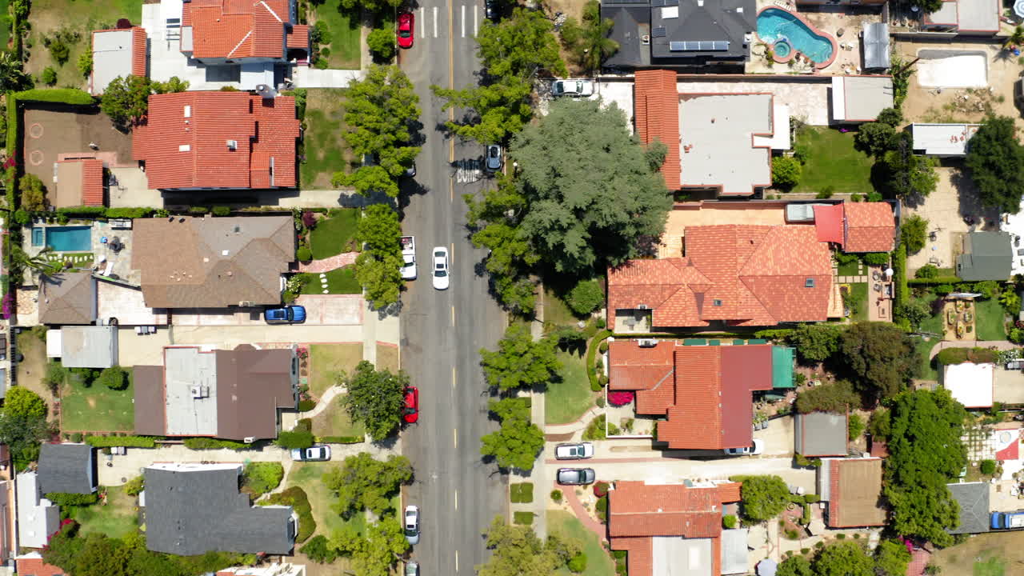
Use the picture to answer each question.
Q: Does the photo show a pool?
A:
Yes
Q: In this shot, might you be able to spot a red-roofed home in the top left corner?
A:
Yes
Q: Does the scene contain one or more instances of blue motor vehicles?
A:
Yes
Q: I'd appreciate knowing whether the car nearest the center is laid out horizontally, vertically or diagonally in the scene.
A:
vertically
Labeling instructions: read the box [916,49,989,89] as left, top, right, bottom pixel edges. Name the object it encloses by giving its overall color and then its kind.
white swimming pool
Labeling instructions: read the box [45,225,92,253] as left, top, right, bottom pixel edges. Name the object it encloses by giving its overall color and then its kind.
blue swimming pool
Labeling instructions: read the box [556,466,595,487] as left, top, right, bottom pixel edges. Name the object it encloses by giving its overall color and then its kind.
gray car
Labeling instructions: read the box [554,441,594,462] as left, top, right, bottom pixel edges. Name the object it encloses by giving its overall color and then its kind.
white car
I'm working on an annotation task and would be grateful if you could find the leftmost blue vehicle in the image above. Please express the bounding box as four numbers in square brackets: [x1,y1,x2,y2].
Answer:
[264,305,307,325]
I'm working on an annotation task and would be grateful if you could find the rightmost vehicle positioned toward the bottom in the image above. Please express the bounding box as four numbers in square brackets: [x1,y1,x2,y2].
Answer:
[990,510,1024,531]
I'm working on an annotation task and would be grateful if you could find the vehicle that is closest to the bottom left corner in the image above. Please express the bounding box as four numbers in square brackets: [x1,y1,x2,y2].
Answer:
[291,444,332,463]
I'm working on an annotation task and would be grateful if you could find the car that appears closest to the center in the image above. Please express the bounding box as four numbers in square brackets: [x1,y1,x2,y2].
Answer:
[430,247,451,290]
